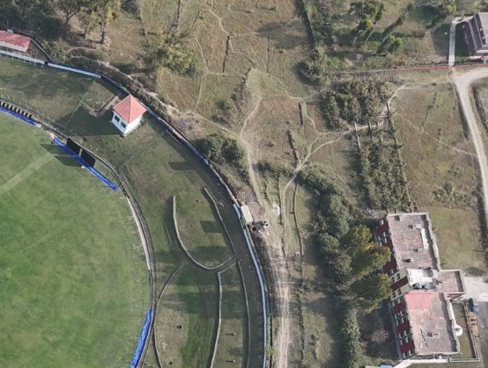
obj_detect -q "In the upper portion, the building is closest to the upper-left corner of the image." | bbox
[0,29,31,55]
